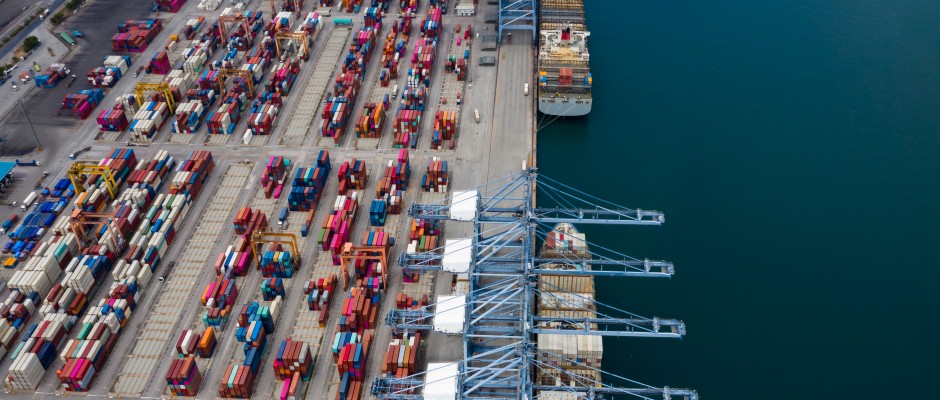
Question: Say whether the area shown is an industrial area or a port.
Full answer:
The area seen from above is a port.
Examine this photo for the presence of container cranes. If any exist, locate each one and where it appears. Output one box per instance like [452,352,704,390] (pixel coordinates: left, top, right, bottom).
[386,271,690,398]
[397,214,677,342]
[65,152,112,195]
[372,338,703,400]
[249,221,300,269]
[133,72,175,109]
[408,166,665,287]
[341,241,389,293]
[68,203,125,251]
[274,26,308,61]
[216,15,251,49]
[215,62,253,100]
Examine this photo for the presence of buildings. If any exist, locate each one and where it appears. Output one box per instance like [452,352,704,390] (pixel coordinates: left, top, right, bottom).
[0,159,19,185]
[454,4,474,15]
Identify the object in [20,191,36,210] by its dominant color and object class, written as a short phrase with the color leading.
white vehicle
